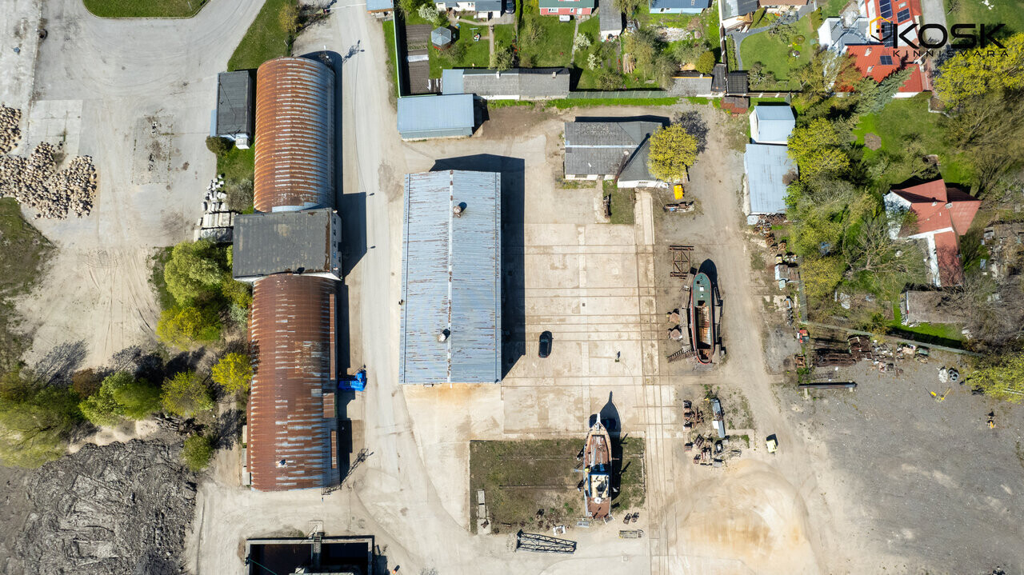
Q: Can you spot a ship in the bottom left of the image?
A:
No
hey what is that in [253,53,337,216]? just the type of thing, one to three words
building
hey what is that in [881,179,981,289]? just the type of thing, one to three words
house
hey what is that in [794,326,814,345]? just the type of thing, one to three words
work vehicle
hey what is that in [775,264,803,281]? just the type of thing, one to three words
shed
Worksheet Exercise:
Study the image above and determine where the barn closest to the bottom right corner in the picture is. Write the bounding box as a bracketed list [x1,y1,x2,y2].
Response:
[899,291,970,326]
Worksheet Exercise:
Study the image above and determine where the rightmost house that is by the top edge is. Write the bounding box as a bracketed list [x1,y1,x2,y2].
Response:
[822,0,931,100]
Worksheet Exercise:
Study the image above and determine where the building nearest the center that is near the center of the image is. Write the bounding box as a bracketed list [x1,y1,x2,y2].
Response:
[399,170,502,387]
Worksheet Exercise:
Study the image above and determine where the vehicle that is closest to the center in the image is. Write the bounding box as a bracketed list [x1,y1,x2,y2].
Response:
[539,331,552,356]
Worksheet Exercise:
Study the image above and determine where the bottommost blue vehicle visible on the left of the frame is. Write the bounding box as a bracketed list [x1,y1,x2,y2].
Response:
[339,367,363,390]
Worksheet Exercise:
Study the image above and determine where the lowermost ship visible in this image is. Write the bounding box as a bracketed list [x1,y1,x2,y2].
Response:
[573,413,620,524]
